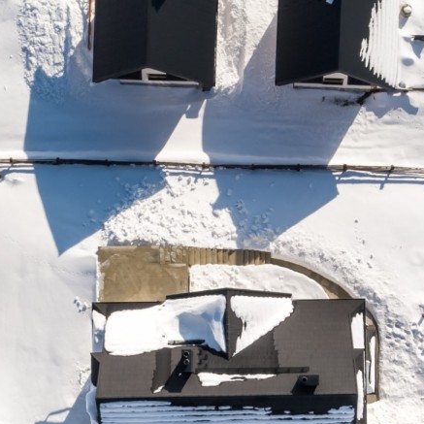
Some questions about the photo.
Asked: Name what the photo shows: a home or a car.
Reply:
home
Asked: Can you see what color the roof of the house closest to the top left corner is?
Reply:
black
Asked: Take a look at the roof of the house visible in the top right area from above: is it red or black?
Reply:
black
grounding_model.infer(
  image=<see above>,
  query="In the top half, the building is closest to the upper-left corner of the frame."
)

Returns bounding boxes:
[93,0,216,92]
